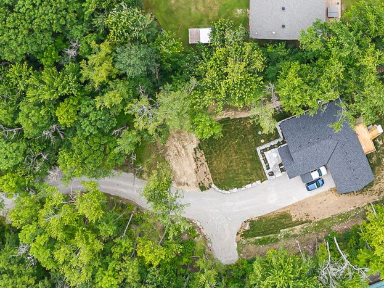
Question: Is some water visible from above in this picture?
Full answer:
No, the scene doesn't show any water.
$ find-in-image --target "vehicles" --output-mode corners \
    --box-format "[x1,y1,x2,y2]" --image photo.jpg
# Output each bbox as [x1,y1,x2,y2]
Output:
[305,177,325,191]
[300,165,327,184]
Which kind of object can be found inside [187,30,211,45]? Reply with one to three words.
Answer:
shed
